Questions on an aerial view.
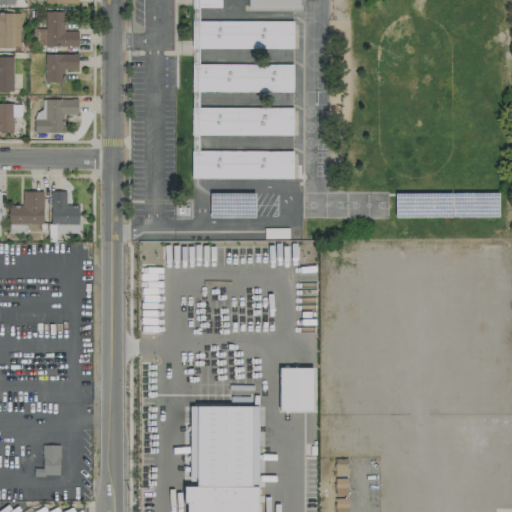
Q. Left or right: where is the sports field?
right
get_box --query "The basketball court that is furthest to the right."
[348,193,389,218]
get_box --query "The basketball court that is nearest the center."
[306,193,348,218]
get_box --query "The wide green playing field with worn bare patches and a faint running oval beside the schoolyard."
[306,0,512,241]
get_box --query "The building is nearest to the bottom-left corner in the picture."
[36,446,62,478]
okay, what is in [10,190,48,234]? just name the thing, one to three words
house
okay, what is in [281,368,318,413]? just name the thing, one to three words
building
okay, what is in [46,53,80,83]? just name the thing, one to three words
house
